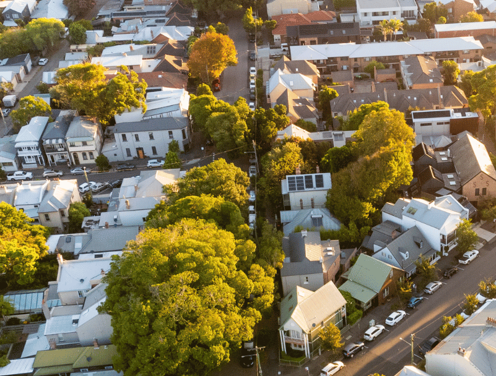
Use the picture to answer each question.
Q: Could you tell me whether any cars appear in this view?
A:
Yes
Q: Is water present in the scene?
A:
No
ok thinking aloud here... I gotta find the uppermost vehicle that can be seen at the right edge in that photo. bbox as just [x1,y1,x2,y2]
[457,250,480,266]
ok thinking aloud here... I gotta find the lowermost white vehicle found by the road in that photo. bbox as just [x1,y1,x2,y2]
[318,361,345,376]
